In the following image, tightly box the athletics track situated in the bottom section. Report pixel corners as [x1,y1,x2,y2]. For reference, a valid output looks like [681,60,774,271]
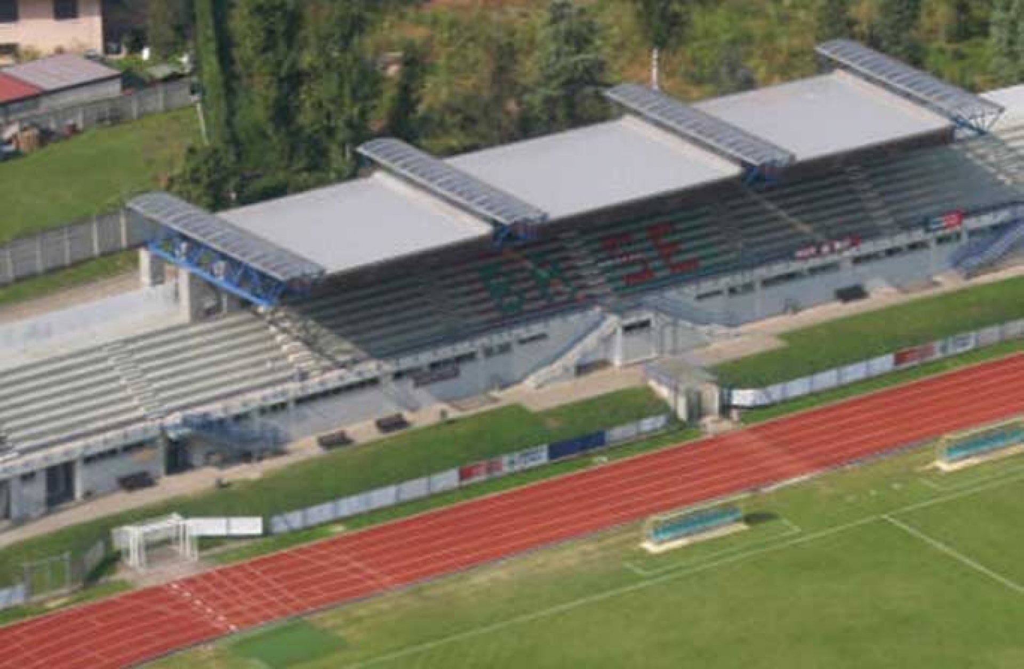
[0,353,1024,669]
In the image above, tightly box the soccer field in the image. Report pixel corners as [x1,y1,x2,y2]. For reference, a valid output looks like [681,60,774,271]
[117,417,1024,669]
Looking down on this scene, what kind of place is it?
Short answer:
sports ground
